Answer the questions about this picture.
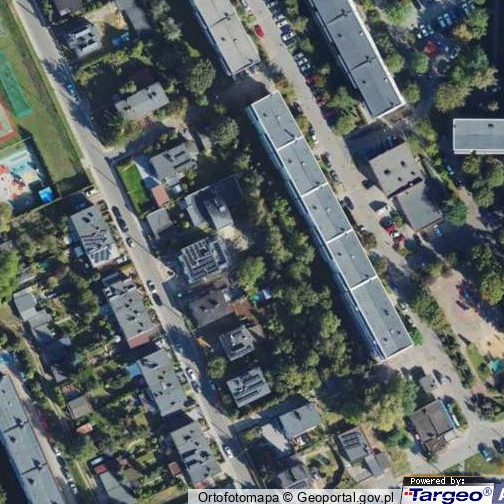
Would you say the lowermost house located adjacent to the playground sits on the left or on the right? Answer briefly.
left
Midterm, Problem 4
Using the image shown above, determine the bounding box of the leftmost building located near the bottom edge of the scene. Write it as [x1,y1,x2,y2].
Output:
[0,376,67,504]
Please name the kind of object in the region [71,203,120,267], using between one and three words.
house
